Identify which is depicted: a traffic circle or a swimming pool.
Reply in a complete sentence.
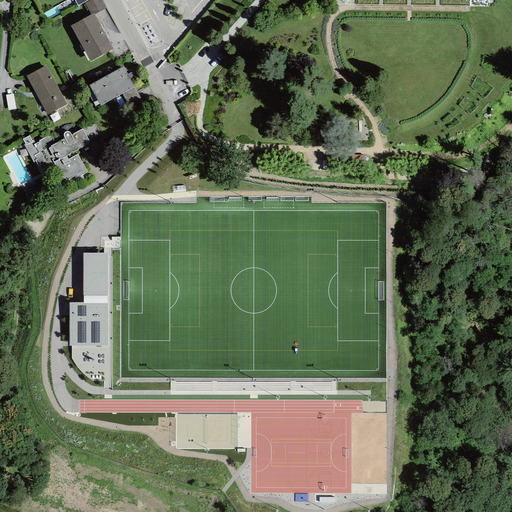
The image shows a swimming pool.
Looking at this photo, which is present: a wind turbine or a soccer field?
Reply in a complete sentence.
I can see a soccer field in this picture.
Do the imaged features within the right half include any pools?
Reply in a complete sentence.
No, I can find no pool within the right half.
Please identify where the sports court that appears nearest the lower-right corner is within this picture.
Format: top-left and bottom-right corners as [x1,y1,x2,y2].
[252,412,352,493]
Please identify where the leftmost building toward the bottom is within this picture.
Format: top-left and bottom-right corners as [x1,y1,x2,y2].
[70,253,109,384]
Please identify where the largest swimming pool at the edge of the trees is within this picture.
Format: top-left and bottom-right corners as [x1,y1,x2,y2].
[4,150,33,188]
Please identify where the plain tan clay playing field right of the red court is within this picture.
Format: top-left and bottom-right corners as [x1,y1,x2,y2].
[352,412,386,493]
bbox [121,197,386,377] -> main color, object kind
green soccer field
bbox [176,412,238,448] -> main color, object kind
white sports court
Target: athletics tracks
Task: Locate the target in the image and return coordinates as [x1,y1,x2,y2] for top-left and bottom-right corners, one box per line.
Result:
[80,400,363,412]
